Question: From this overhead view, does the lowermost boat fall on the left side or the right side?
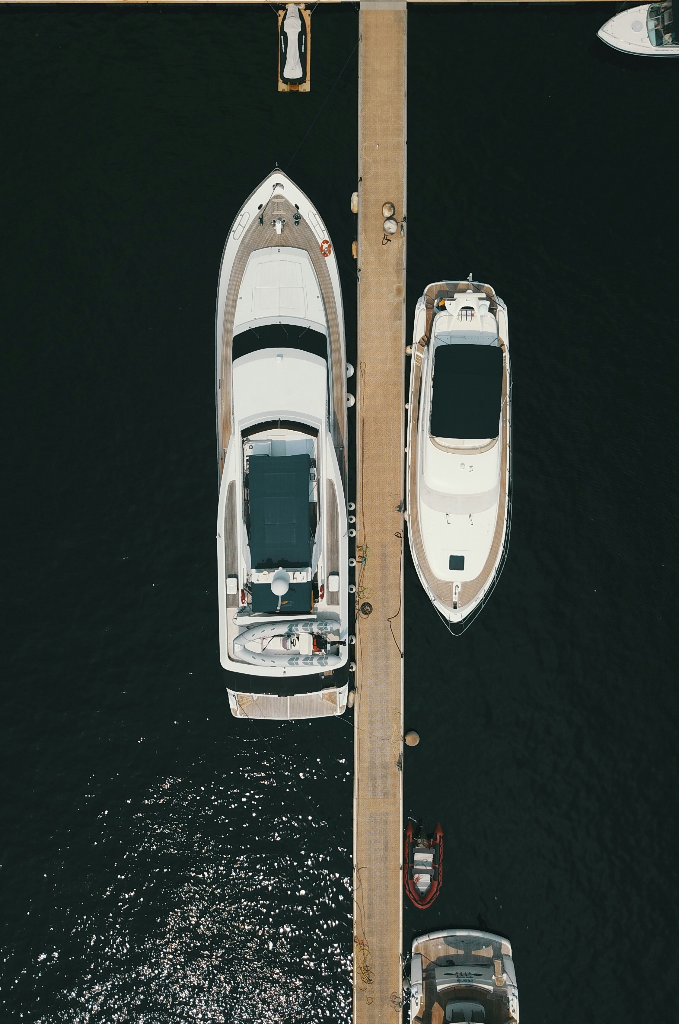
right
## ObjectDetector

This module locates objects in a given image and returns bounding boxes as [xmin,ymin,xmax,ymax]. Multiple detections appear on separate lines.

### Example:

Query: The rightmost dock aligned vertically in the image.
[353,11,408,1024]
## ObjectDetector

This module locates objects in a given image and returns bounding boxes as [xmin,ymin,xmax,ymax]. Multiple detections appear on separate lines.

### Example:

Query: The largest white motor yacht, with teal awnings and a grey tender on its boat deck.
[215,162,350,719]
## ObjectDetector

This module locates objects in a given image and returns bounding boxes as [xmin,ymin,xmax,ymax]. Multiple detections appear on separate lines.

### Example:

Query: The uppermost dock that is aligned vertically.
[277,10,311,93]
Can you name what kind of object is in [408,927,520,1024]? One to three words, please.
boat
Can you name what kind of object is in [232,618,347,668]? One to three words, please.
boat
